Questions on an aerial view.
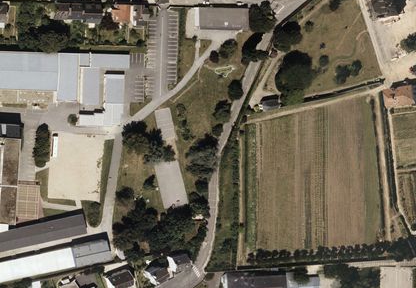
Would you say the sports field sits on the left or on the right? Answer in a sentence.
It is on the left.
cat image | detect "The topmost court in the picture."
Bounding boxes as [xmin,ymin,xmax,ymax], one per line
[155,108,175,142]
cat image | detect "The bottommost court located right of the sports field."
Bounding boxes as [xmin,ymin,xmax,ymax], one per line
[154,163,188,209]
